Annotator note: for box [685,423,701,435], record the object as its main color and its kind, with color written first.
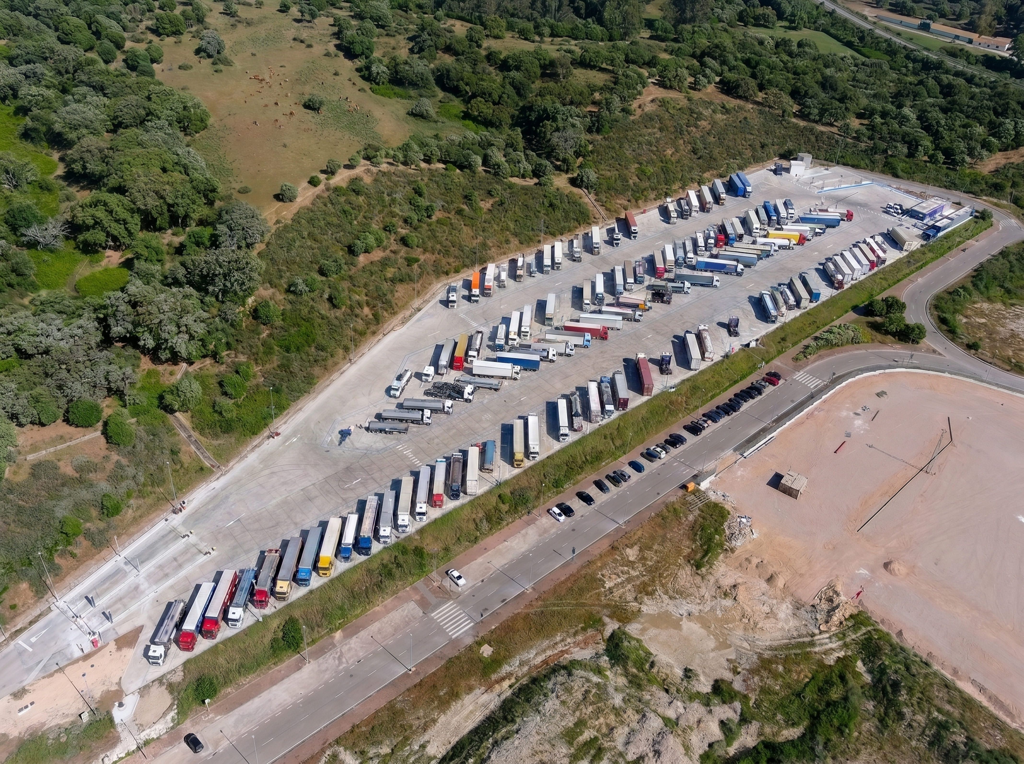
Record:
black vehicle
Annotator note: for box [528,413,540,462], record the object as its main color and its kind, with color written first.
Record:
white vehicle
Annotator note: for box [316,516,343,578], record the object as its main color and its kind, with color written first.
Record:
white truck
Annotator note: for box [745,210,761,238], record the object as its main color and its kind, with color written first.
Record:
white vehicle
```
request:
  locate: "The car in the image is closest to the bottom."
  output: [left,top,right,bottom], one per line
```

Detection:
[185,732,202,754]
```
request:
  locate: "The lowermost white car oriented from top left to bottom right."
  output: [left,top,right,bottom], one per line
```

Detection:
[449,572,466,587]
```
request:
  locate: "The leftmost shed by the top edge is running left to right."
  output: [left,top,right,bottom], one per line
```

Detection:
[877,11,922,29]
